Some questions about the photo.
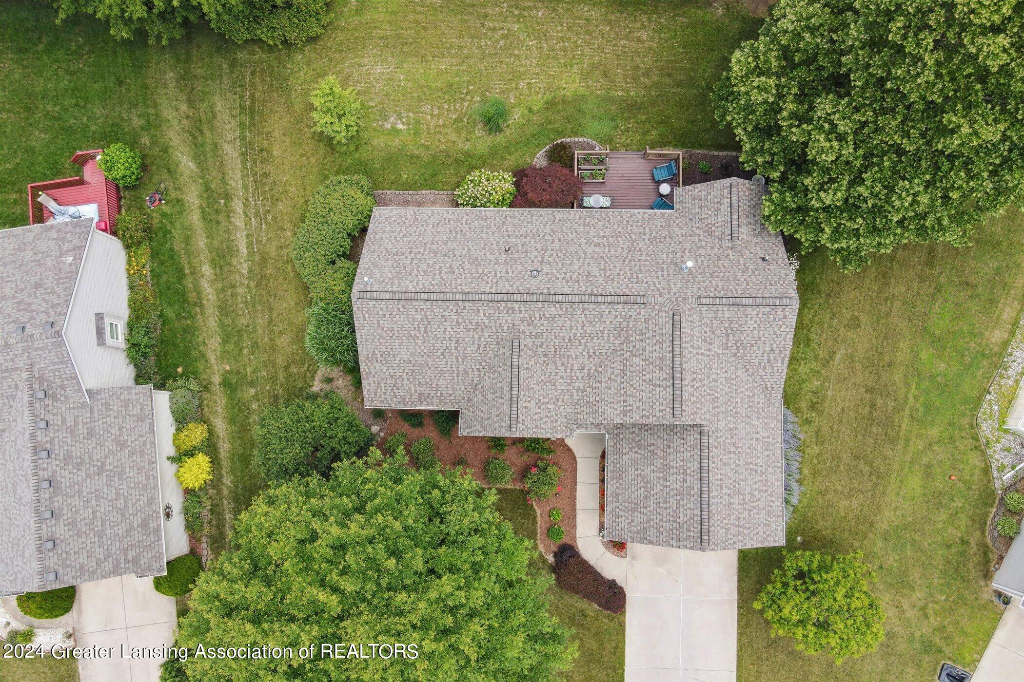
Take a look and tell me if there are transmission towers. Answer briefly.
No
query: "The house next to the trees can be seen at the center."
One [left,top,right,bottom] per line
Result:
[352,177,798,551]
